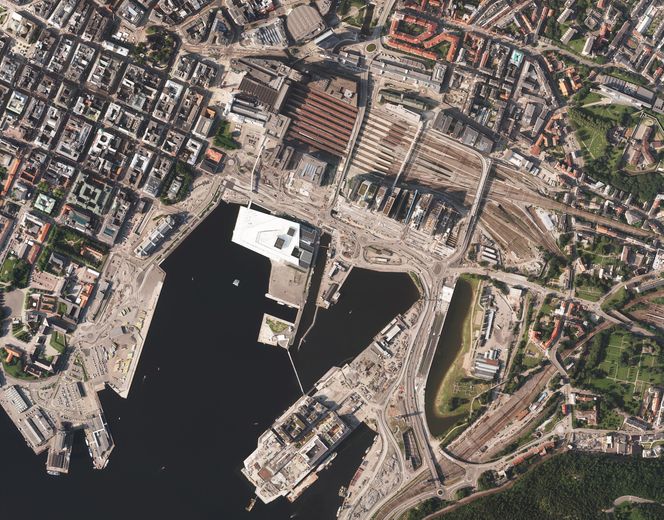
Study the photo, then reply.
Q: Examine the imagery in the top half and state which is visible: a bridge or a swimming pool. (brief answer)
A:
bridge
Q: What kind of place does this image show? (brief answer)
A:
port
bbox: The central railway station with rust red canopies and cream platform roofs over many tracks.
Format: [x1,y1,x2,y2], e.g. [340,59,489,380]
[224,57,403,177]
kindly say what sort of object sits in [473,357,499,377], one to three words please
building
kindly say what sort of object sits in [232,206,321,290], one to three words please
building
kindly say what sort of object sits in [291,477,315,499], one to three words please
ship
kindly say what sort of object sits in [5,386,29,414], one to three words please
shed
